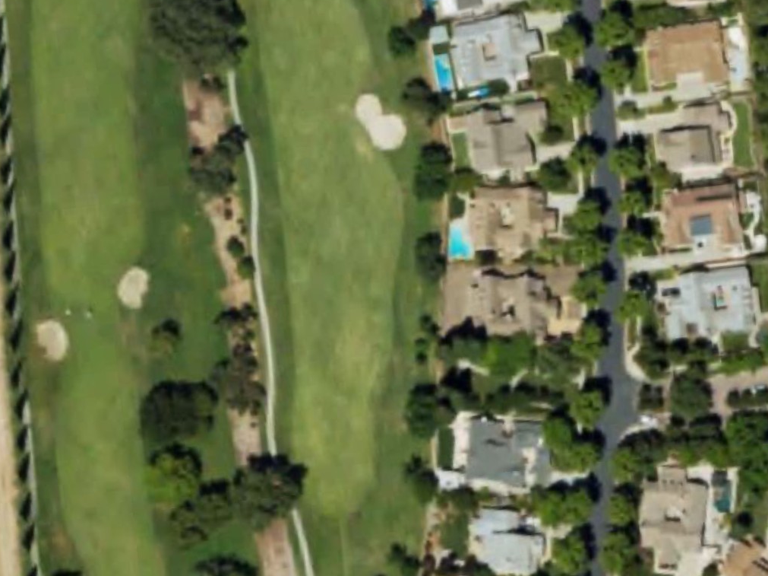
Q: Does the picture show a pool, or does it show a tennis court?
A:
pool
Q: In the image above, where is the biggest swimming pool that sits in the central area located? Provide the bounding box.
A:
[450,224,472,259]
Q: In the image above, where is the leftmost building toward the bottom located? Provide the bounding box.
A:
[439,470,464,489]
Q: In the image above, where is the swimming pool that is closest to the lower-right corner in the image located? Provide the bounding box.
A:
[715,470,732,512]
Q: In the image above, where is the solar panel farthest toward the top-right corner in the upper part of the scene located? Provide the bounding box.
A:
[692,216,713,235]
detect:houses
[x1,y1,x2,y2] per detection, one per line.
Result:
[465,102,547,182]
[465,418,552,487]
[448,14,545,88]
[466,189,559,259]
[661,265,755,337]
[664,182,741,251]
[726,540,768,576]
[471,506,544,576]
[658,101,735,170]
[641,462,709,572]
[466,276,558,343]
[442,0,485,20]
[643,19,732,87]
